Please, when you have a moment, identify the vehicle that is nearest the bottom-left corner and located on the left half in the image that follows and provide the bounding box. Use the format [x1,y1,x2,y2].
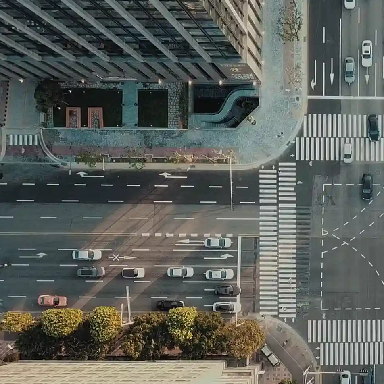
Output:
[39,295,67,307]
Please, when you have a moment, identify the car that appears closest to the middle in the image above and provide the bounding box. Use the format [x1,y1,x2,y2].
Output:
[205,237,232,249]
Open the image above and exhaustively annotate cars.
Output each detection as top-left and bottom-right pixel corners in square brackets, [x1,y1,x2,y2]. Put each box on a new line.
[342,142,354,164]
[361,40,373,68]
[361,173,373,201]
[214,301,241,312]
[215,284,241,297]
[74,249,101,261]
[341,372,351,384]
[157,299,184,310]
[367,114,380,141]
[343,56,356,84]
[344,0,354,9]
[122,267,144,279]
[205,237,232,249]
[167,266,195,278]
[39,295,67,307]
[363,369,373,384]
[79,266,105,278]
[207,268,234,280]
